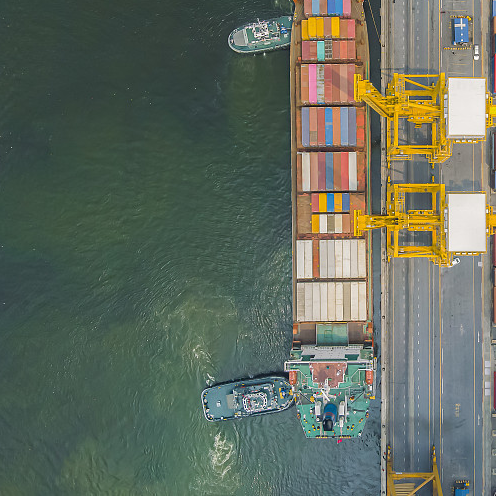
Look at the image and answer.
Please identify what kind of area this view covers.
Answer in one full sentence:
The picture captures a port.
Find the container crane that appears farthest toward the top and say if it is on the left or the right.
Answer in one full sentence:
You can find the container crane that appears farthest toward the top on the right side of the picture.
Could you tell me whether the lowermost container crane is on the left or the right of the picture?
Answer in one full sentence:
You can find the lowermost container crane on the right side of the picture.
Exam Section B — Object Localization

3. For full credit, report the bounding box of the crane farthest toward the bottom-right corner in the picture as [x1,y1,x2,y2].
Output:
[388,446,444,496]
